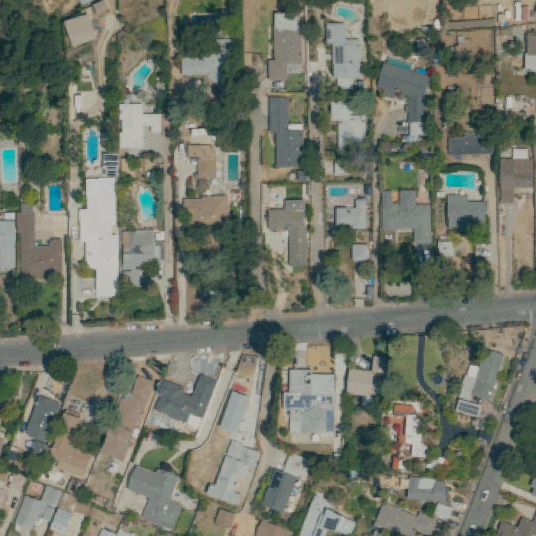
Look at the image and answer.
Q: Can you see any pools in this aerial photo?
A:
Yes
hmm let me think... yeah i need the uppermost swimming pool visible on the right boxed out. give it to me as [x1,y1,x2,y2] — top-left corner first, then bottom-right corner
[335,7,359,23]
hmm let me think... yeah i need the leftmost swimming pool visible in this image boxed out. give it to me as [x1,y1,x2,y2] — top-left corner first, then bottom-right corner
[1,148,19,183]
